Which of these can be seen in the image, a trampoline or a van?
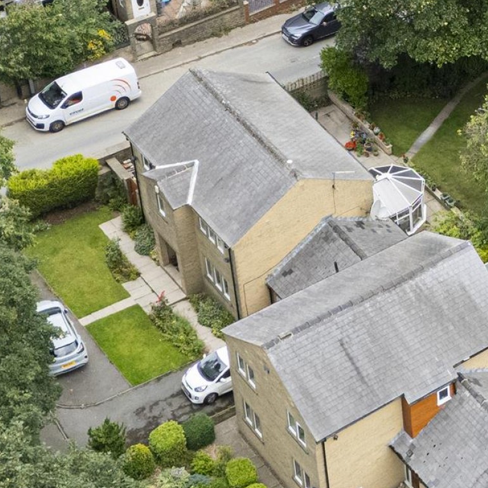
van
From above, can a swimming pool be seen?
No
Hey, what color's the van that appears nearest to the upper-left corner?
white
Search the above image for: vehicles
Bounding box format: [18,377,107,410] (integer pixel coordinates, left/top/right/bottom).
[31,295,94,374]
[28,57,135,132]
[181,338,233,398]
[282,0,355,45]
